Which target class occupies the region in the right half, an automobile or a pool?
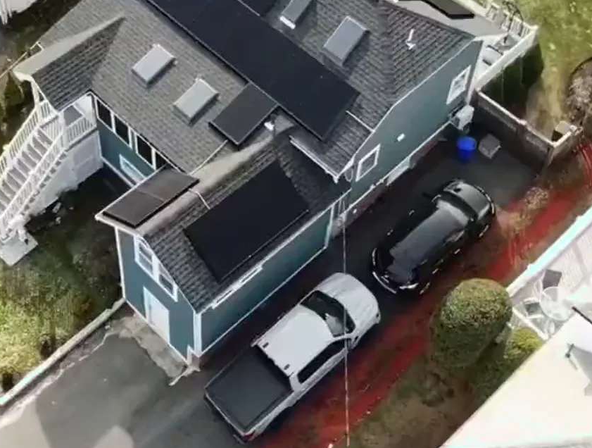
automobile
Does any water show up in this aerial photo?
No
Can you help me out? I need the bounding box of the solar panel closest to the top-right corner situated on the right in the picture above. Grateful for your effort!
[424,0,471,19]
